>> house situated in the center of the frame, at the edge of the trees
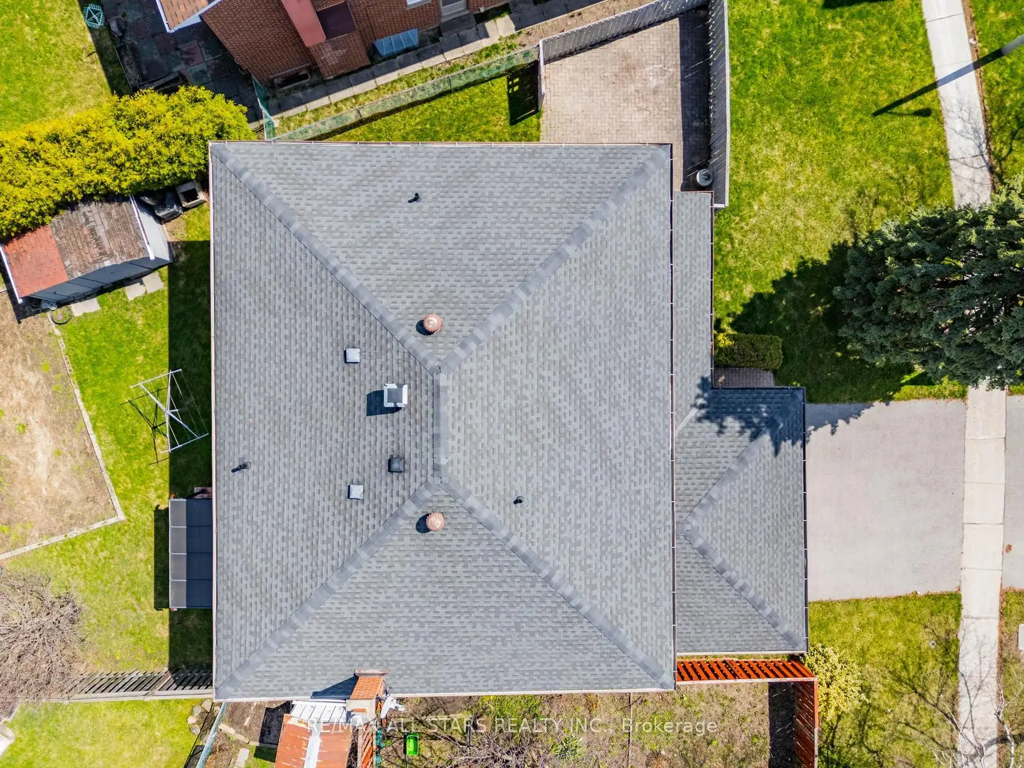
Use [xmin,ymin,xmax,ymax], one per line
[207,139,811,736]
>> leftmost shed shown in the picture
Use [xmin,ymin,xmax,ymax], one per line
[0,183,168,302]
